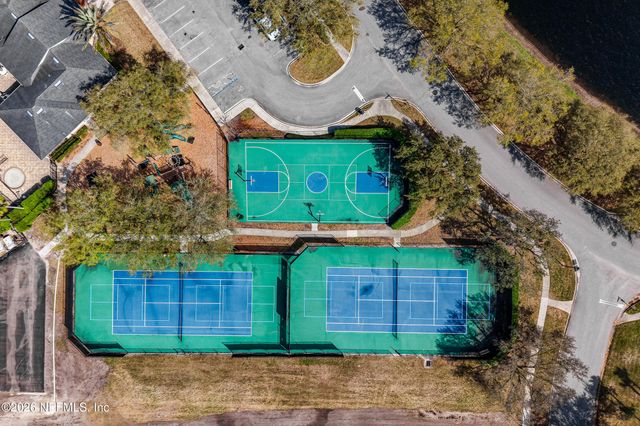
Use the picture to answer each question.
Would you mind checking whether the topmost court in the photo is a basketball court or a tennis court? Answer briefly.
basketball court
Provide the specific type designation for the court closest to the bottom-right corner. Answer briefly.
tennis court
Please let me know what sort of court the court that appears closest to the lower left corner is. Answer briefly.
tennis court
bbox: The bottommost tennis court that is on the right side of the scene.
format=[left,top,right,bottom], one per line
[291,246,504,353]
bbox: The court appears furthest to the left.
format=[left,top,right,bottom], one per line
[74,253,291,353]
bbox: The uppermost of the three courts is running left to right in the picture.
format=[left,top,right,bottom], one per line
[229,139,406,222]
